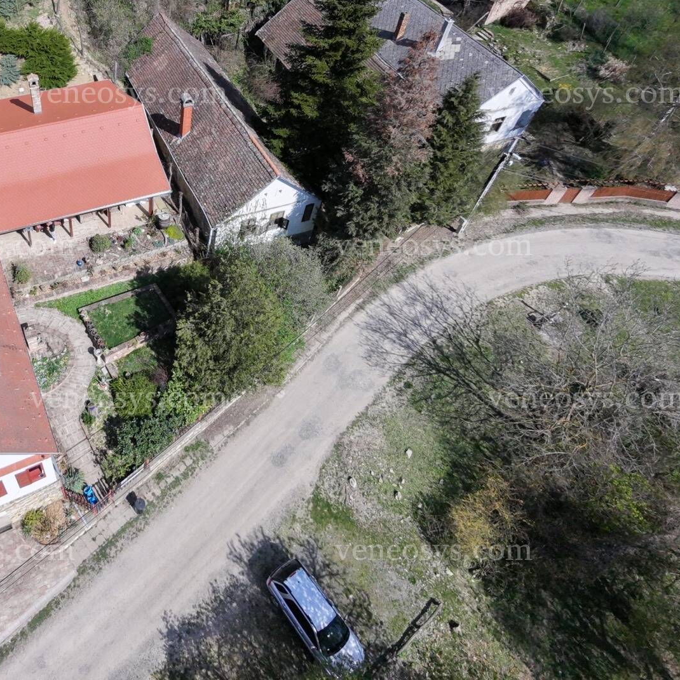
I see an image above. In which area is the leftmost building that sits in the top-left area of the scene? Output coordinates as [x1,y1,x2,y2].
[0,70,171,247]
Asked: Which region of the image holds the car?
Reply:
bottom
